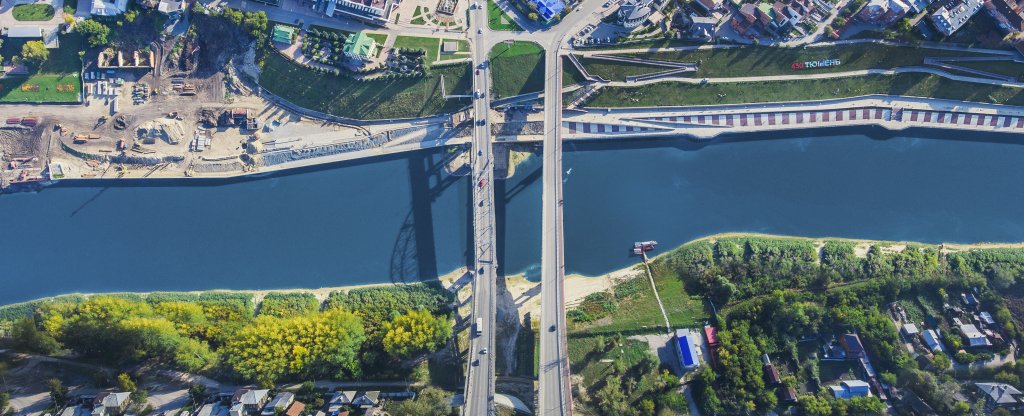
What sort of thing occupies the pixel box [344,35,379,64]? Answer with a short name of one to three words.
house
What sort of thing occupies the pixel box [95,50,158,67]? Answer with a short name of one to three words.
building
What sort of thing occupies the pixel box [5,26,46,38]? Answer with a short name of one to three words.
building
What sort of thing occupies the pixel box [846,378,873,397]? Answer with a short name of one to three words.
house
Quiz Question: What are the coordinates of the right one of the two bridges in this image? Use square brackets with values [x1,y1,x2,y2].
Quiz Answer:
[538,46,572,416]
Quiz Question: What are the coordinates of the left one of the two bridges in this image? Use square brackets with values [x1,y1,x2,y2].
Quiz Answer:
[463,36,497,416]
